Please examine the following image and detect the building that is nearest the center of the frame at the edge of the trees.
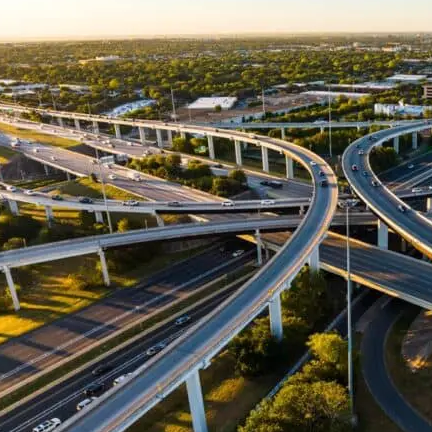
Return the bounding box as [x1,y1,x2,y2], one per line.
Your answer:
[184,94,242,111]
